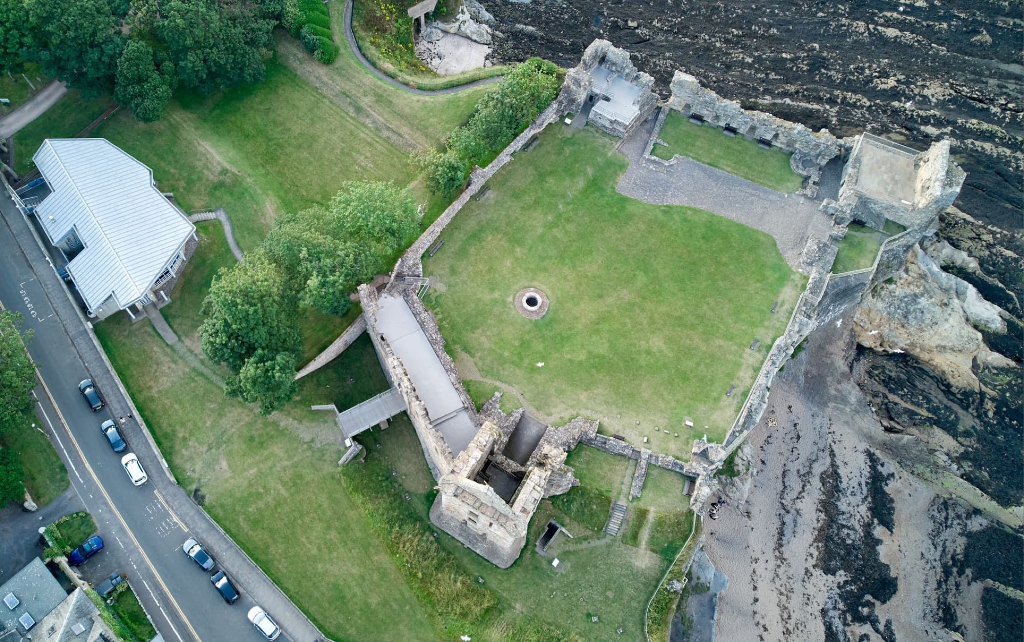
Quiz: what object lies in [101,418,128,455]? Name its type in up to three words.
car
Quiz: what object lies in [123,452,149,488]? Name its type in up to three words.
car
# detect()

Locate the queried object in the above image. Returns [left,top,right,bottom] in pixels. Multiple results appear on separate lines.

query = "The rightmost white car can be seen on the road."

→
[249,605,281,642]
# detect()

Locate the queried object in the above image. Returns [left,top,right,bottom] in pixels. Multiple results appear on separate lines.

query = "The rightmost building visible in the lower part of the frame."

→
[429,422,551,568]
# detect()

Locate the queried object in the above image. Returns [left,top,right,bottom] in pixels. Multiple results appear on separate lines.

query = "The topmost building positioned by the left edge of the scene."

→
[32,137,204,325]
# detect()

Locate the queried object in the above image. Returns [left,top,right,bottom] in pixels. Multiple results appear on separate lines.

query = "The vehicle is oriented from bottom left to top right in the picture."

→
[69,533,106,567]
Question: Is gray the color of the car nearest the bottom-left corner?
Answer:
No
